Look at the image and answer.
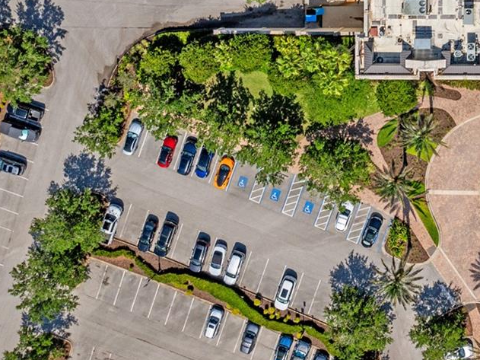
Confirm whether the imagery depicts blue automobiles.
Yes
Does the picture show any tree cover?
Yes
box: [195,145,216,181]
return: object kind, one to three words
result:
car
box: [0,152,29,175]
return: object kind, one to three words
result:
car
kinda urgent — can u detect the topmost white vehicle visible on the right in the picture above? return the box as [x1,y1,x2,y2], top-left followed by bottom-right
[335,198,355,233]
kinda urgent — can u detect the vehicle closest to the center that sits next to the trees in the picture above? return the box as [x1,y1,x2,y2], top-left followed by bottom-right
[215,156,236,188]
